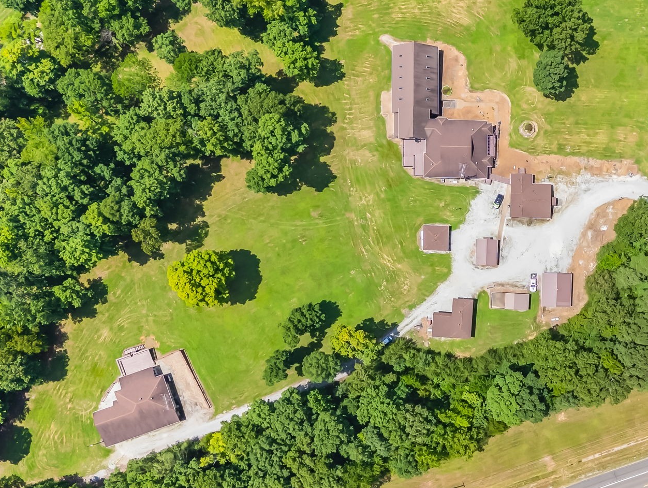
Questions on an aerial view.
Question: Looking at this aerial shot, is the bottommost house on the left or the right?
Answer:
left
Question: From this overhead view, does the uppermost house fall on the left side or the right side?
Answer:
right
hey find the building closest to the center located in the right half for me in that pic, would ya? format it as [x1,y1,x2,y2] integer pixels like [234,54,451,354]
[422,225,449,251]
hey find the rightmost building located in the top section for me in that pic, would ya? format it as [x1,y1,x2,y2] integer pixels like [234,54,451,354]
[510,169,561,220]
